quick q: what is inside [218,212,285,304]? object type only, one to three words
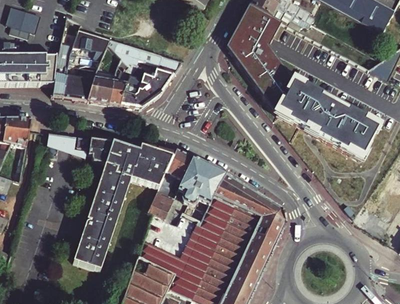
building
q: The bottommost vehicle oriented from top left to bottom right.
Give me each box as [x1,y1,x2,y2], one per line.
[358,283,384,304]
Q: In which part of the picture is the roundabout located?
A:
bottom right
